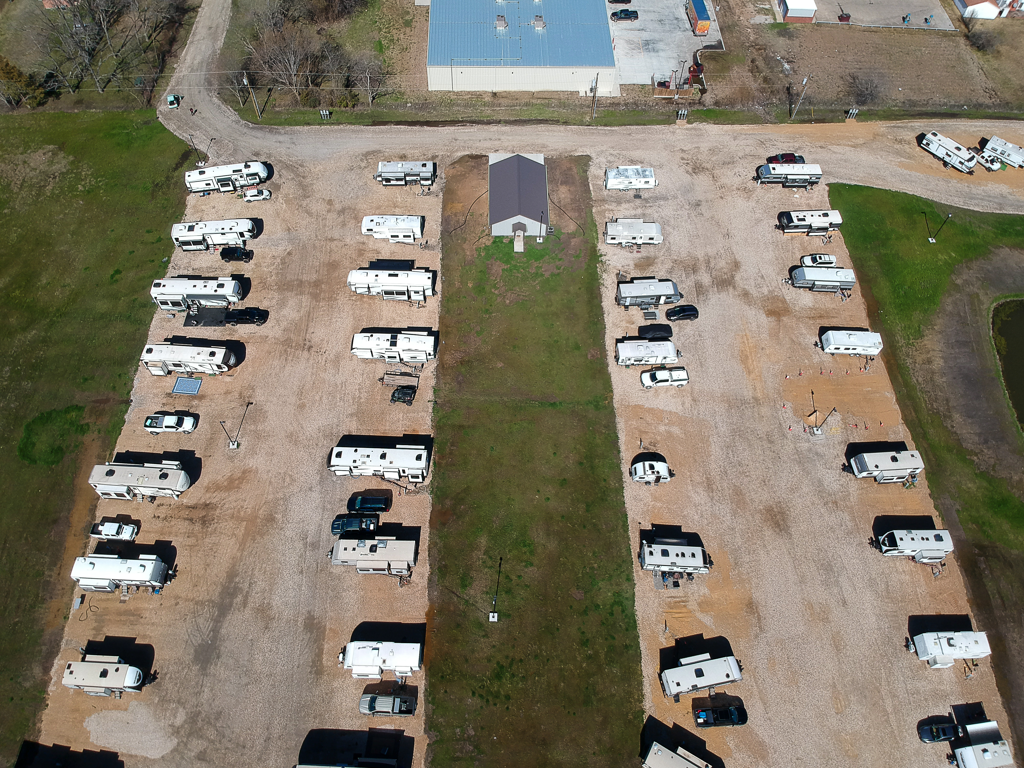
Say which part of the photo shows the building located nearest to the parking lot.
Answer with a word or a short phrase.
top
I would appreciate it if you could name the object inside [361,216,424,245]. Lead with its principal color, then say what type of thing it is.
white camper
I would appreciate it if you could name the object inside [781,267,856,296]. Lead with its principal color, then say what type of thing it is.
white vehicle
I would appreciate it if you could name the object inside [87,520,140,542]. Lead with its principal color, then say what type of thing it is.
white truck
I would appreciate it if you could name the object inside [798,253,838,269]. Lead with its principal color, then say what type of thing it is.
white car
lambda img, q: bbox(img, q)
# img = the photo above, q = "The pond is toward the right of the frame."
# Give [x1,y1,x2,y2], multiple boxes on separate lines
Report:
[992,296,1024,434]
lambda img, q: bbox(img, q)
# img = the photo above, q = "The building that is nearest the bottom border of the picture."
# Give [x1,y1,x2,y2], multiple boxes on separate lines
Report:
[487,156,550,240]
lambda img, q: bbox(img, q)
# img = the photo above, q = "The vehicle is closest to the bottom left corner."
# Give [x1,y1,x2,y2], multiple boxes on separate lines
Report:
[62,651,164,701]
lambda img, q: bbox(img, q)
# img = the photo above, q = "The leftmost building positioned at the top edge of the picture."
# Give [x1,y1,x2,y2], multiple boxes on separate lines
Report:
[425,0,617,91]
